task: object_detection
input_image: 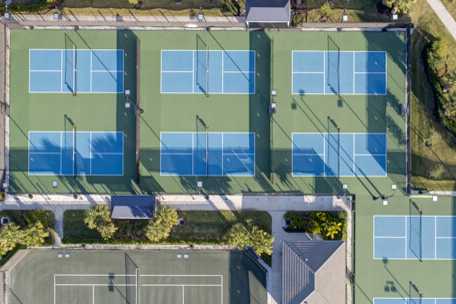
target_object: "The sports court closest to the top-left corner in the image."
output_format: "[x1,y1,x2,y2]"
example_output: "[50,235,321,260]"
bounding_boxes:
[10,31,139,112]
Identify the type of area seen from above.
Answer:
sports ground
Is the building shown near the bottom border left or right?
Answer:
right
